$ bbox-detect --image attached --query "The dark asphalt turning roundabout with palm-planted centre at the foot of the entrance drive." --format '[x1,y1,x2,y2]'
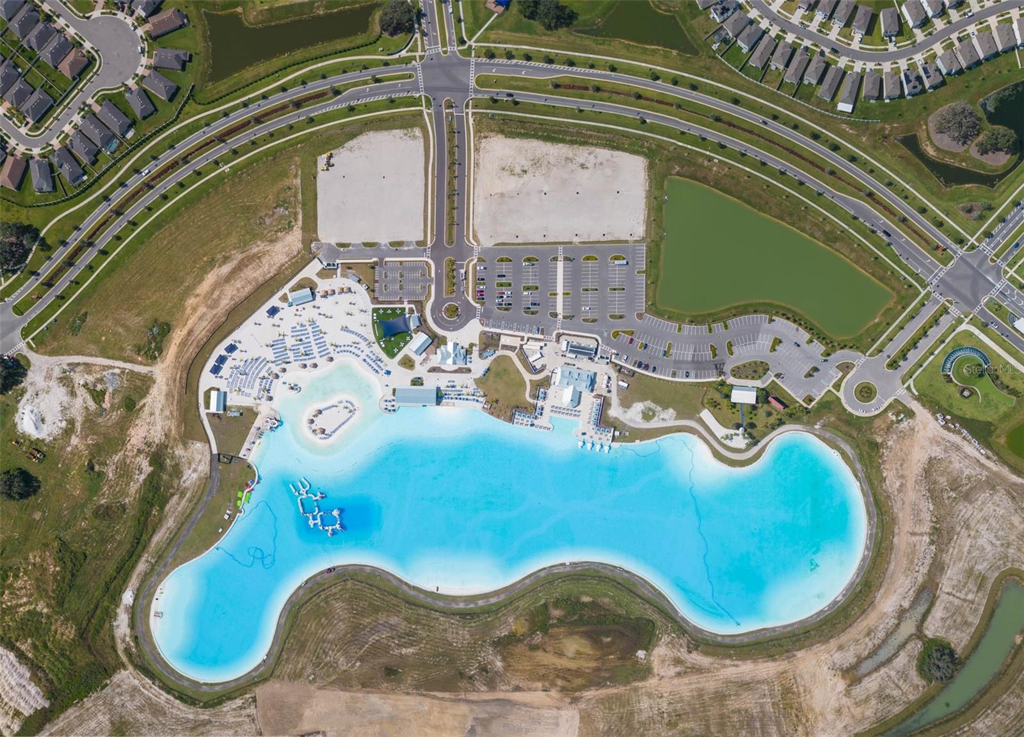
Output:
[429,290,478,333]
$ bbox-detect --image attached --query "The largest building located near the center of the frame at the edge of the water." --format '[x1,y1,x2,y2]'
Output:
[554,366,597,410]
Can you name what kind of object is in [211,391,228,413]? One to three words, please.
shed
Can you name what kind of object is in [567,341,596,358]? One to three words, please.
building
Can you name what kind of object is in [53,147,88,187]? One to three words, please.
house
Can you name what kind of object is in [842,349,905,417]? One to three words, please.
roundabout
